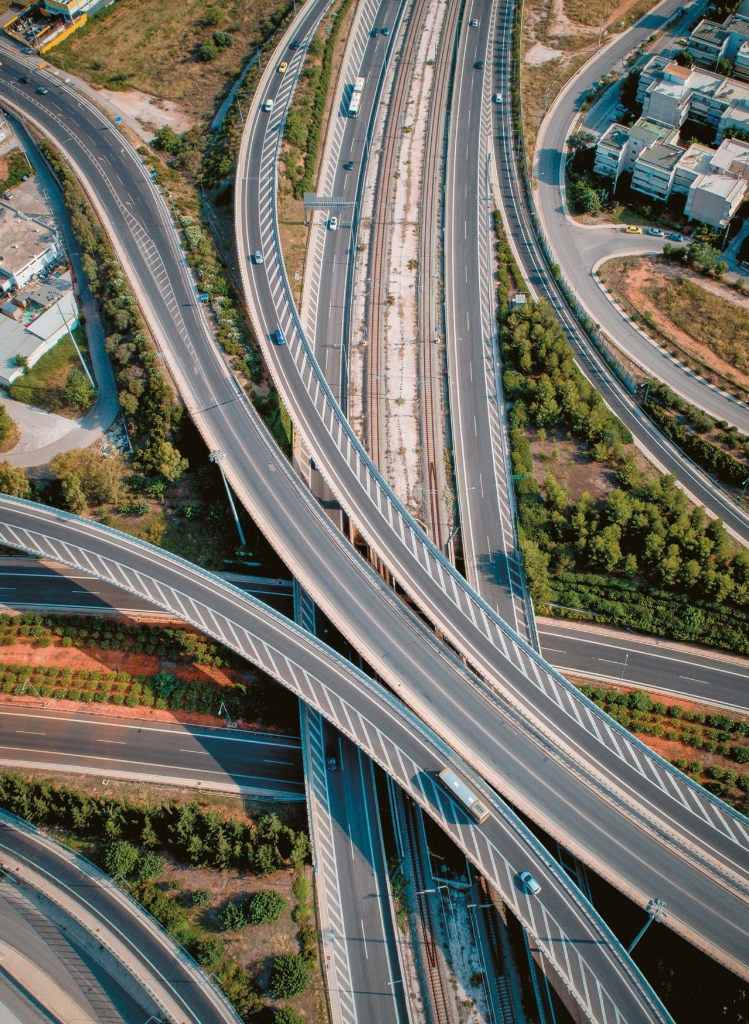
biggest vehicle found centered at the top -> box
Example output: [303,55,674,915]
[348,76,367,119]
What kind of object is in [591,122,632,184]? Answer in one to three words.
building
